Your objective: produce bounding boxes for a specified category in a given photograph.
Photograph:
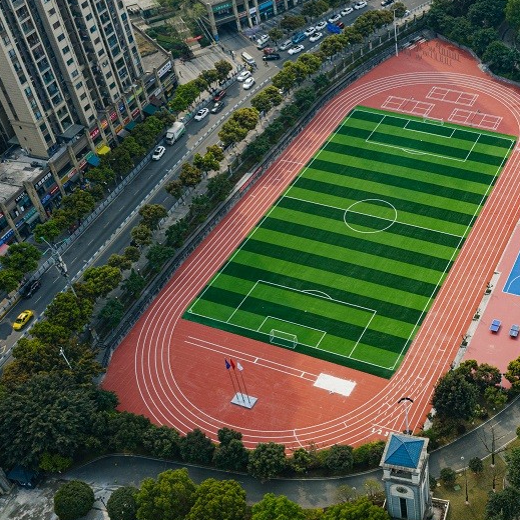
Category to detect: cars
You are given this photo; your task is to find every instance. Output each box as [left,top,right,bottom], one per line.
[242,78,255,88]
[152,147,166,159]
[328,14,340,22]
[212,100,225,110]
[336,21,346,28]
[309,32,323,41]
[241,50,254,63]
[196,108,210,119]
[13,311,34,329]
[401,9,412,17]
[341,7,353,15]
[306,26,317,35]
[292,29,307,42]
[22,278,42,297]
[264,53,280,61]
[315,20,328,29]
[238,68,252,80]
[214,89,228,101]
[289,45,303,54]
[355,1,367,9]
[280,39,293,49]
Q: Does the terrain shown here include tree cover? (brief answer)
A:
Yes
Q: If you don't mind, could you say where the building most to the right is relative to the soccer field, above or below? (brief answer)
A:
below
